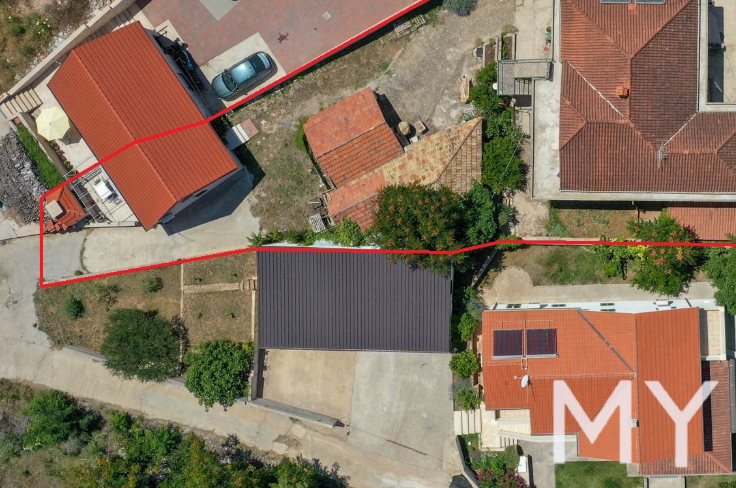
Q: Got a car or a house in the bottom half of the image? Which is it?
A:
house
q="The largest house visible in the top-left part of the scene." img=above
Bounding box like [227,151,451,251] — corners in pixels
[47,21,245,232]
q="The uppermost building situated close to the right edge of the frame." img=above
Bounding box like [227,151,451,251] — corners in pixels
[533,0,736,201]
